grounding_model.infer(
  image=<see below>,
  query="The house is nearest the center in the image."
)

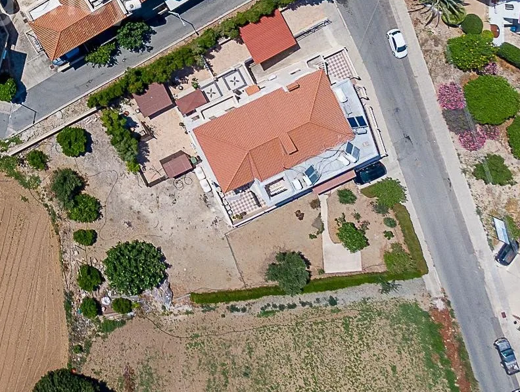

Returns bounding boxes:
[181,47,391,229]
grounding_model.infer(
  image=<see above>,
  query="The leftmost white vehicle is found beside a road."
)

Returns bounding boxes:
[387,28,408,58]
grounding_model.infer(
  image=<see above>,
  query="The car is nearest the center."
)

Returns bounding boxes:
[355,163,386,184]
